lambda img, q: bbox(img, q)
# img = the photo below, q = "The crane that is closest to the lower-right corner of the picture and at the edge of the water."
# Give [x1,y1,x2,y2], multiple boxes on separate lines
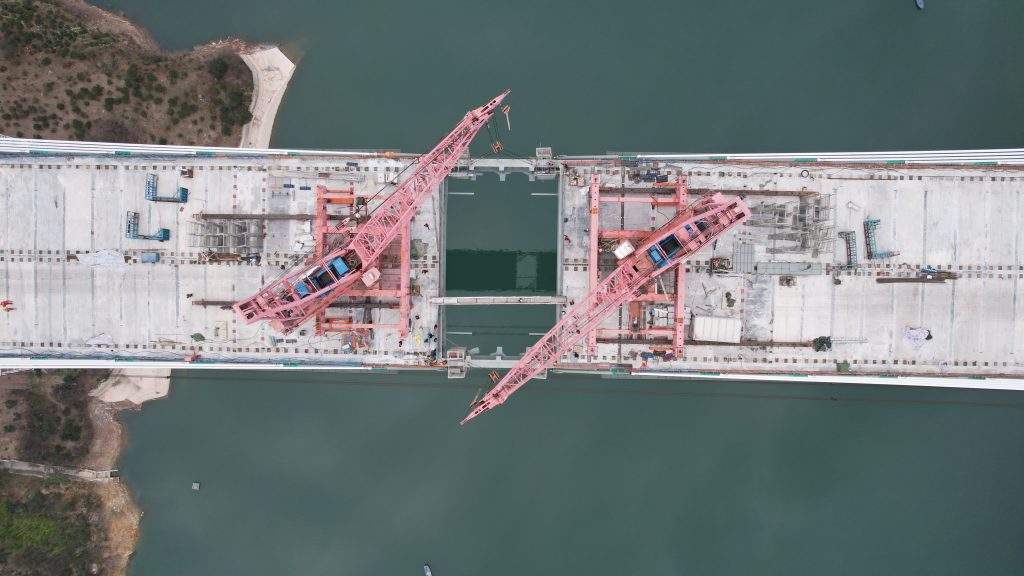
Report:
[458,174,753,426]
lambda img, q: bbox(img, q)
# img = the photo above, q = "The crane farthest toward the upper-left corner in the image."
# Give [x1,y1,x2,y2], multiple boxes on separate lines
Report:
[233,88,515,337]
